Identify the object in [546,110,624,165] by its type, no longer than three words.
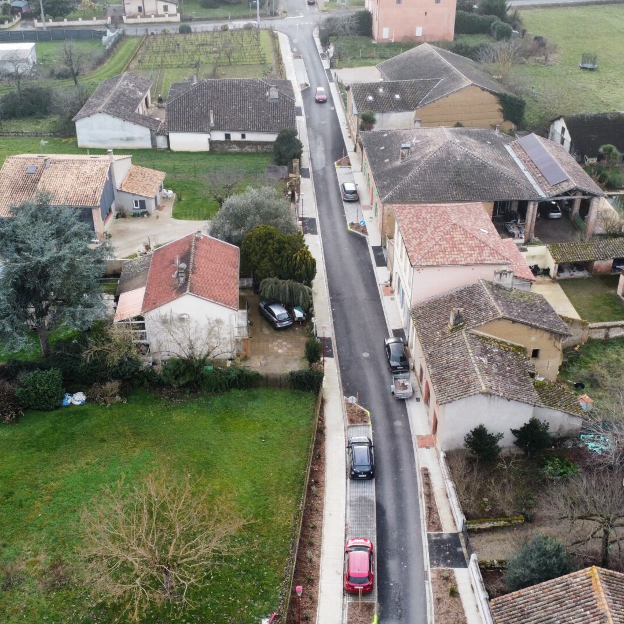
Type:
barn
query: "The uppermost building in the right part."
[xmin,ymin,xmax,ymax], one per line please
[367,0,458,42]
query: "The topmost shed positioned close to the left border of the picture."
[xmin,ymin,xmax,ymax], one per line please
[9,0,33,24]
